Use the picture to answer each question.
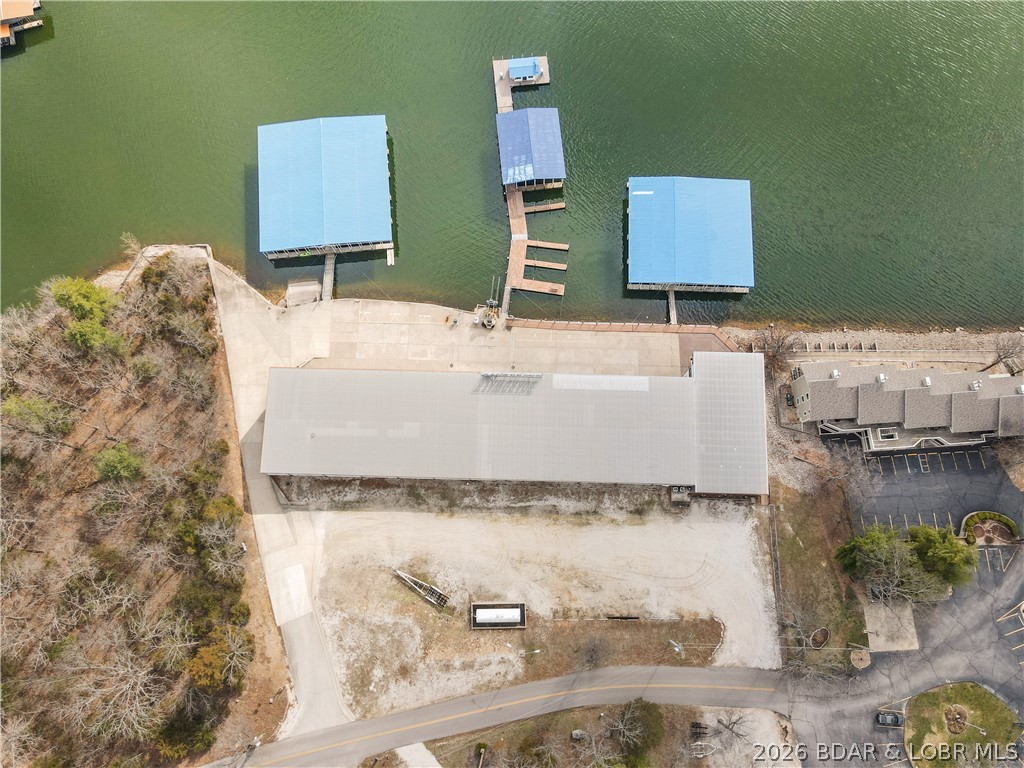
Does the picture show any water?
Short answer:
Yes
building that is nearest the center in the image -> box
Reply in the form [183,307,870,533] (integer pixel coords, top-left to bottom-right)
[261,352,769,504]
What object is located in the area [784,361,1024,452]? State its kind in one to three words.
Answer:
building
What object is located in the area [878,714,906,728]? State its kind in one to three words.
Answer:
car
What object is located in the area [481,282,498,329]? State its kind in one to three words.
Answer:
work vehicle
